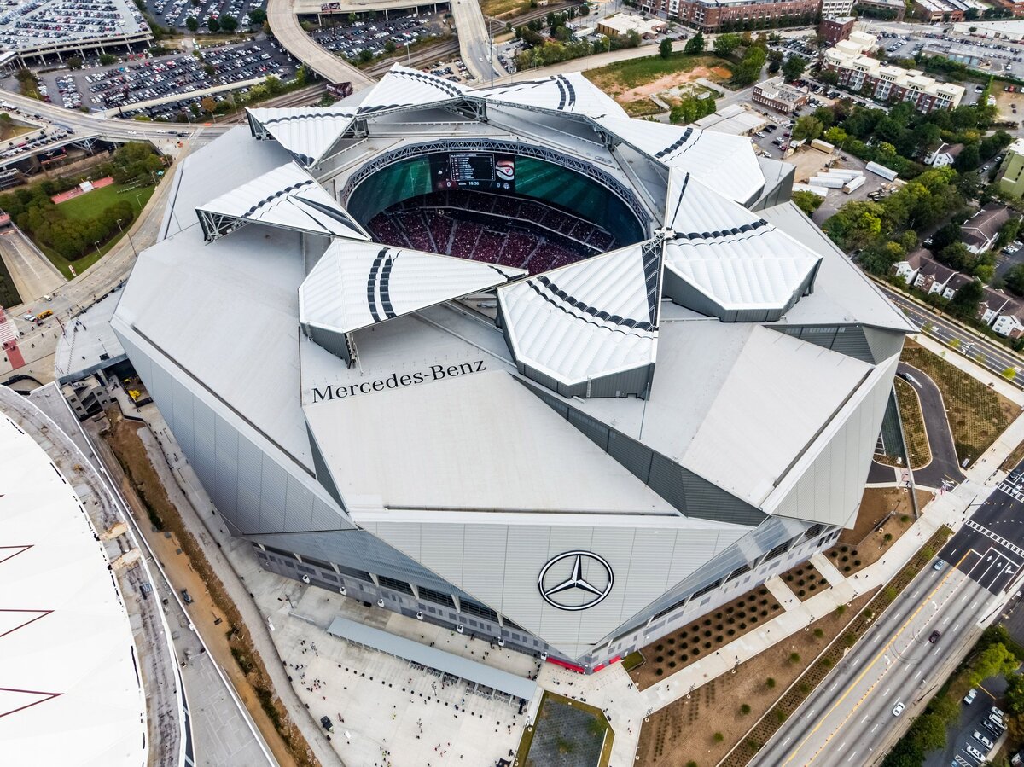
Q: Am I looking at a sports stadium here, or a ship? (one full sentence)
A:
This aerial view contains a sports stadium.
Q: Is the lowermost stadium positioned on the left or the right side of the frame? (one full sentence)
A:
The lowermost stadium is on the left side of the image.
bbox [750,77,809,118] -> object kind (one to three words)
building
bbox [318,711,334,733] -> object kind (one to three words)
vehicle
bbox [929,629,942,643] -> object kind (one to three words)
vehicle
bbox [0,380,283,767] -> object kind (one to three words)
stadium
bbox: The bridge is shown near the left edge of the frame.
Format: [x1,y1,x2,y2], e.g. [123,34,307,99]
[0,120,99,171]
